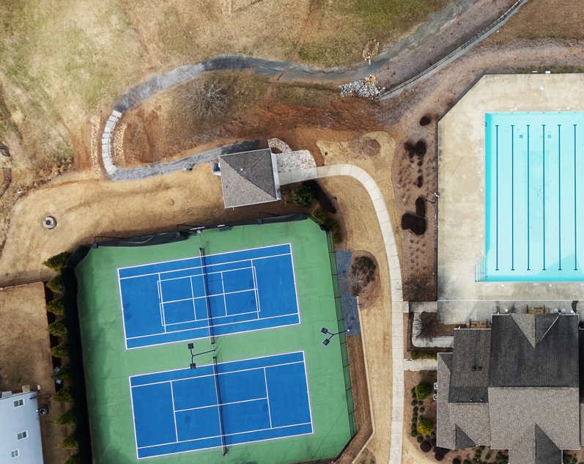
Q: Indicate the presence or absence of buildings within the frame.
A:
Yes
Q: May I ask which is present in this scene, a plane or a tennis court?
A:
tennis court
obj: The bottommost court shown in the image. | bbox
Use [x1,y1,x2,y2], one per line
[129,352,313,458]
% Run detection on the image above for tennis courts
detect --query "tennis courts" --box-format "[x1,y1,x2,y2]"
[129,352,313,458]
[118,243,300,349]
